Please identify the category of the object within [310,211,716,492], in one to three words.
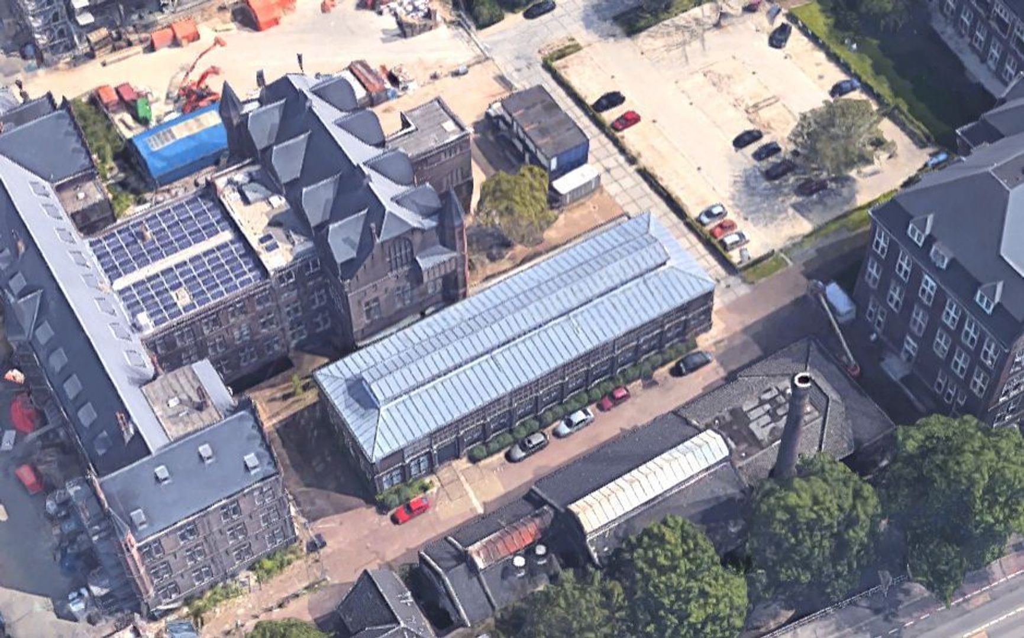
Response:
building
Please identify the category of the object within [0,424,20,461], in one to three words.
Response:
car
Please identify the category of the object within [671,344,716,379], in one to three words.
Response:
car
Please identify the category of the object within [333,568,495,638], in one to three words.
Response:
house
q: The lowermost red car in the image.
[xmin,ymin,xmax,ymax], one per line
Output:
[388,494,434,528]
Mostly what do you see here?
buildings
